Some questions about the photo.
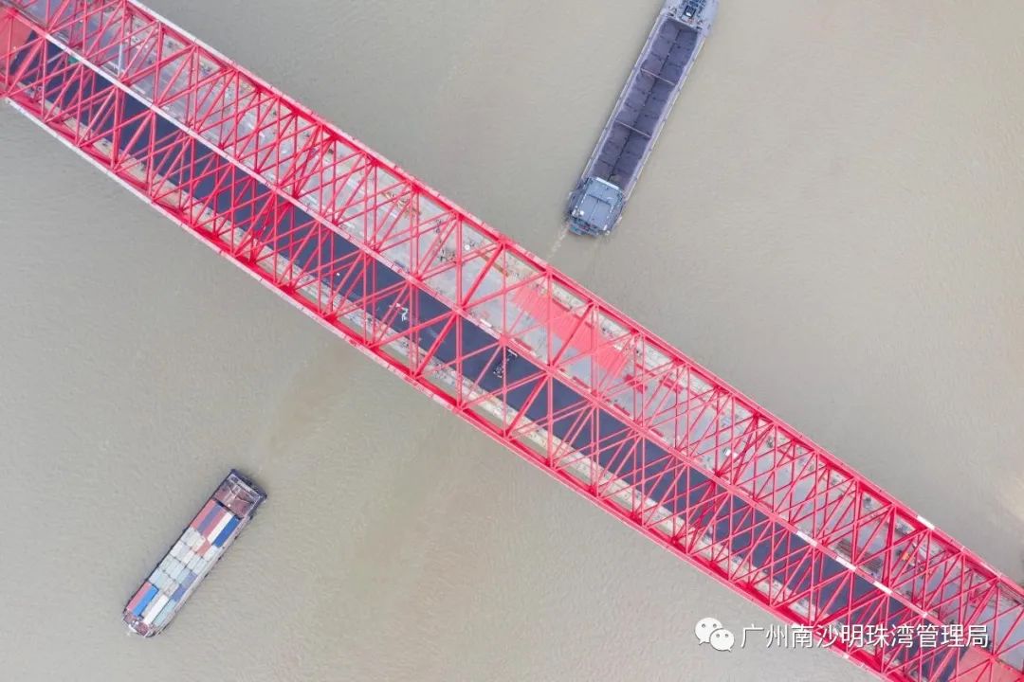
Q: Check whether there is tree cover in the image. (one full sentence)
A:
No, the picture contains no tree cover.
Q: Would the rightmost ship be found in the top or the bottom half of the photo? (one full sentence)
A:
It is in the top half that the rightmost ship appears.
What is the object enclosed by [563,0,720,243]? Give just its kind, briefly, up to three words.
ship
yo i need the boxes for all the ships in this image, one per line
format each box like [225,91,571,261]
[126,465,271,639]
[563,0,720,243]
